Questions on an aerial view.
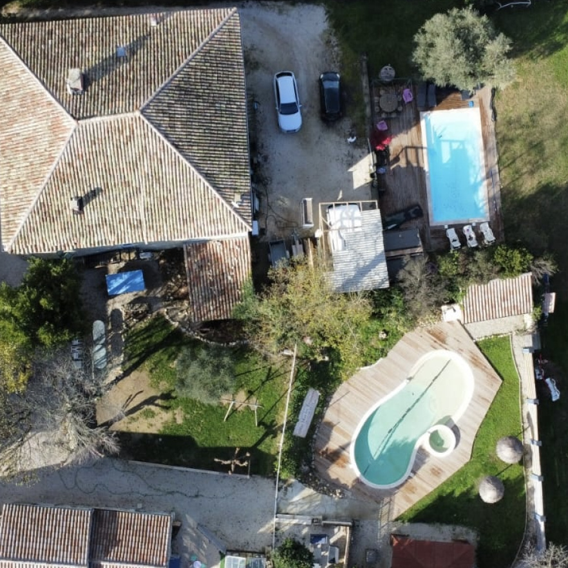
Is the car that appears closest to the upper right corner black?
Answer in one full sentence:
Yes, the car that appears closest to the upper right corner is indeed black.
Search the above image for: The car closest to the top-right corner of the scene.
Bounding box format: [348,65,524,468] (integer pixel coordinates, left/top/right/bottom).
[317,71,344,123]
